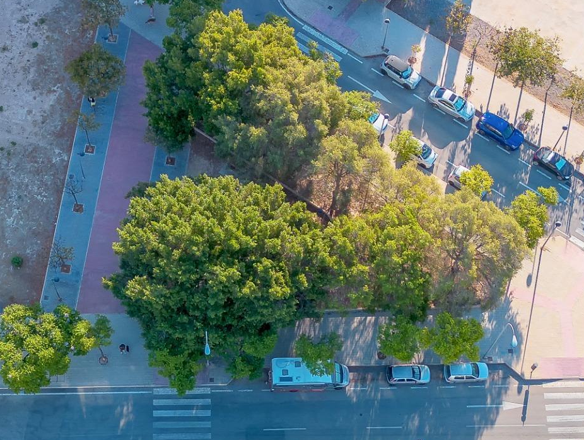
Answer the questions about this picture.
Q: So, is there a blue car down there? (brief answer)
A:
Yes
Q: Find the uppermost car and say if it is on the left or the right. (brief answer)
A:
right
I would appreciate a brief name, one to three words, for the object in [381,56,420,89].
car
